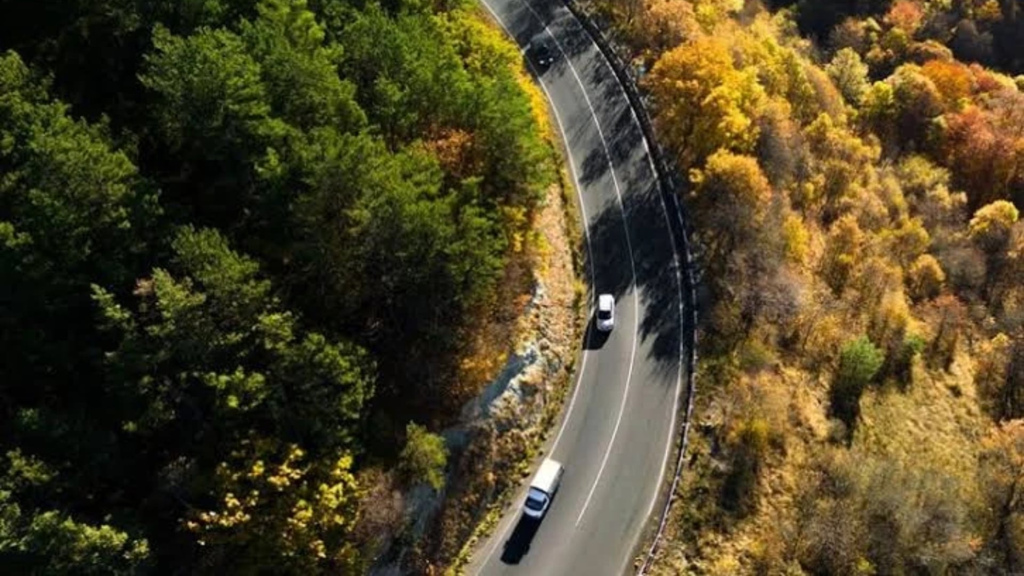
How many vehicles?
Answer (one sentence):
I count 3 vehicles.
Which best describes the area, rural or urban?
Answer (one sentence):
The area is rural.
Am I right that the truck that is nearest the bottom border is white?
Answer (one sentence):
Yes, the truck that is nearest the bottom border is white.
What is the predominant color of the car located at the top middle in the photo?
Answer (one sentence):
The color of the car located at the top middle is black.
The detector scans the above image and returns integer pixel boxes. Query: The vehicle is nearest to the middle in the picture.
[594,292,615,329]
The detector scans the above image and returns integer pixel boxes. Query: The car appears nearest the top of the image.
[532,40,556,68]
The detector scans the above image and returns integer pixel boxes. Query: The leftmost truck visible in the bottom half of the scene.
[519,454,564,526]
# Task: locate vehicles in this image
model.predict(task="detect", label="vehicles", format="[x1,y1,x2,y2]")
[532,40,556,68]
[594,292,615,329]
[519,454,564,526]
